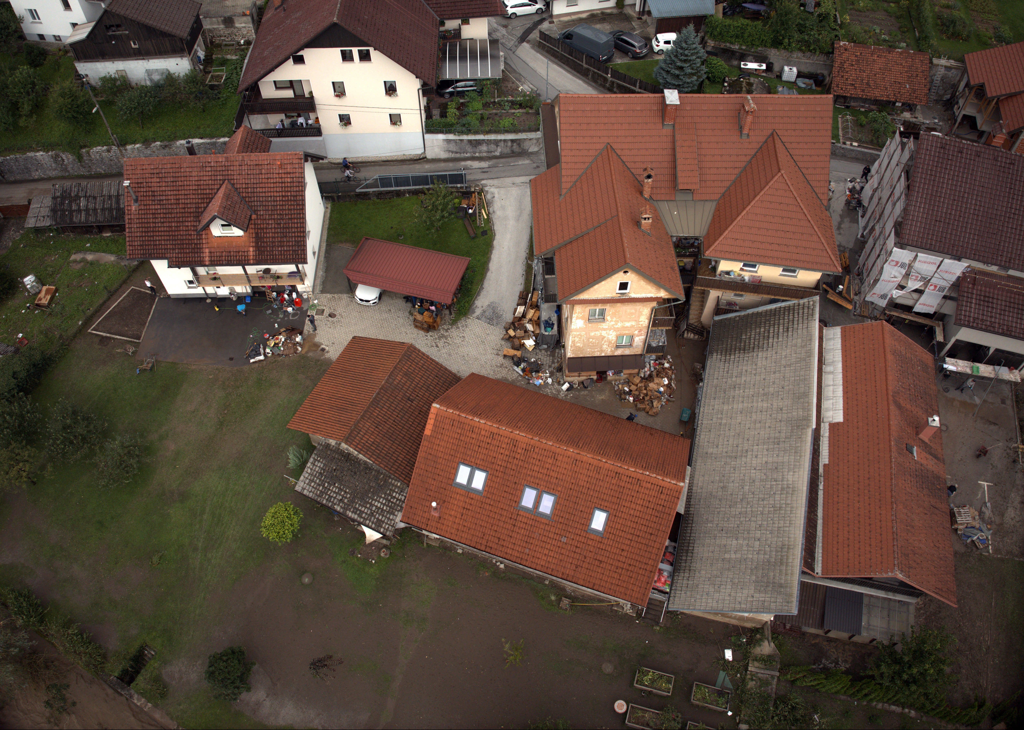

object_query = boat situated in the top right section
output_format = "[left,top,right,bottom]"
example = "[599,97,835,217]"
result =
[742,2,769,18]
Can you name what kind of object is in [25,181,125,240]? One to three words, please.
shed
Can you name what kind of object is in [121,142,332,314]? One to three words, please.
house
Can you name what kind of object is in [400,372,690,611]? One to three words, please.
barn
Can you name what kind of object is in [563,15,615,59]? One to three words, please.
van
